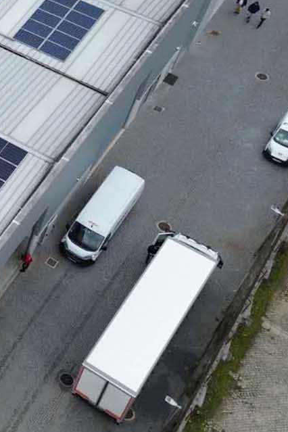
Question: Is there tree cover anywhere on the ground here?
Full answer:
No, there's no tree cover in this view.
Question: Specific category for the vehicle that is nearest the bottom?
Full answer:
The vehicle that is nearest the bottom appears to be a truck.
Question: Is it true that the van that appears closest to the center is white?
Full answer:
Yes, the van that appears closest to the center is white.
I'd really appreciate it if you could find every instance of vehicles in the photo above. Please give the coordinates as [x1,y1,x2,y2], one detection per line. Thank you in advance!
[61,166,146,272]
[264,114,288,170]
[65,230,222,427]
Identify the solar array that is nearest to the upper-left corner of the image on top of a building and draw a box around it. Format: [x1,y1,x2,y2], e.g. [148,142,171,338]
[14,0,103,62]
